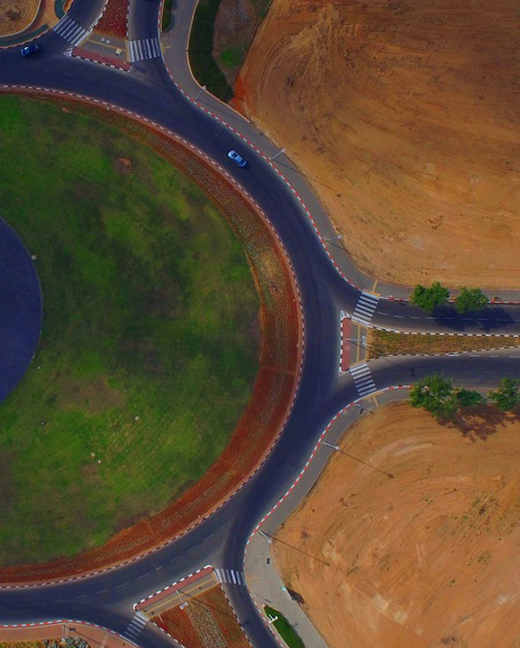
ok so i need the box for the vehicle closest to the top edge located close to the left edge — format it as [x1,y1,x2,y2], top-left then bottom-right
[21,43,40,55]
